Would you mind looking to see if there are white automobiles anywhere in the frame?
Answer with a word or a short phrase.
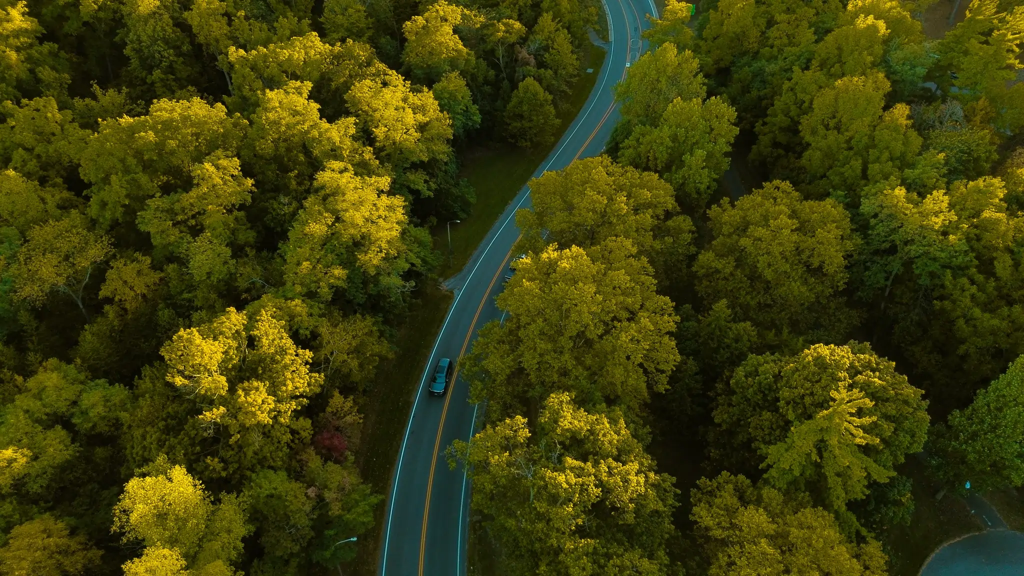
No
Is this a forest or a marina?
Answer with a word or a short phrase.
forest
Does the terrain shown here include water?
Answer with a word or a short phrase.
No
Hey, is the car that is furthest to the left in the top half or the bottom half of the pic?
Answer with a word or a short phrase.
bottom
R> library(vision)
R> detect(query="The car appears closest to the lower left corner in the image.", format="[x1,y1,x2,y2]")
[427,359,451,397]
